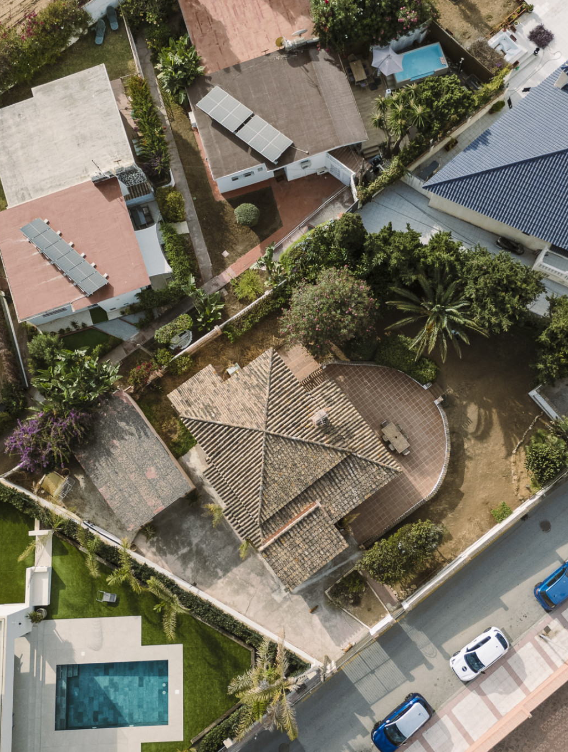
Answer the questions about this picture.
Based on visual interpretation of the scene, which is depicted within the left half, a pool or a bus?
pool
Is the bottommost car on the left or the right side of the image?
right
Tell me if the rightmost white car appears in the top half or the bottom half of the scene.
bottom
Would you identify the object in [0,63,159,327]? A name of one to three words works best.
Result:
house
